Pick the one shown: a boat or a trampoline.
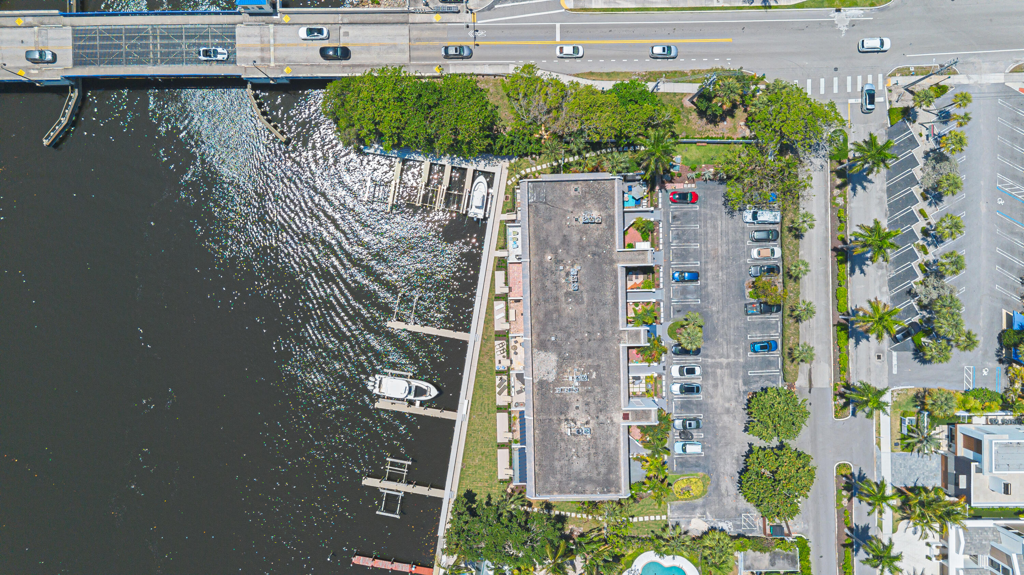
boat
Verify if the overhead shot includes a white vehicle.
Yes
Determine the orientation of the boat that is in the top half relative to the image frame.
from top to bottom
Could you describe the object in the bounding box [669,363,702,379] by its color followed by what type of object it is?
white car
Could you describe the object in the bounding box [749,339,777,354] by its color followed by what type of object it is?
blue car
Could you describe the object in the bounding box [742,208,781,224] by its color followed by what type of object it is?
white vehicle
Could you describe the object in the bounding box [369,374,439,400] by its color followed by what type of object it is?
white boat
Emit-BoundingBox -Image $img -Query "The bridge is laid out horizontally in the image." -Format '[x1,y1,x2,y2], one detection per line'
[0,8,472,85]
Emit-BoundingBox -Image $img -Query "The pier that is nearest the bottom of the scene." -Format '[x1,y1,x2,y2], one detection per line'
[350,551,434,575]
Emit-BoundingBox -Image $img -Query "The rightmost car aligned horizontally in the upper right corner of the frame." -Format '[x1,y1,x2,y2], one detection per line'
[857,35,890,51]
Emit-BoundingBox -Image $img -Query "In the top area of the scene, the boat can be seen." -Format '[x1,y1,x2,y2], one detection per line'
[468,176,488,224]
